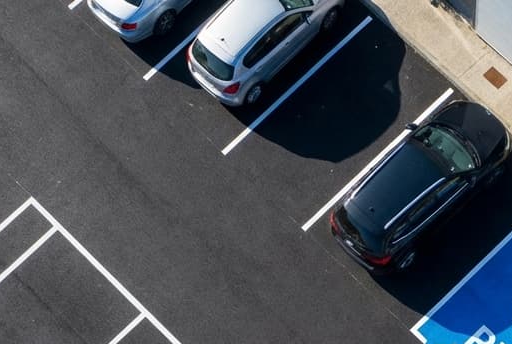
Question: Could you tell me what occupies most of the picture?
paved ground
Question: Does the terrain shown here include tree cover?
No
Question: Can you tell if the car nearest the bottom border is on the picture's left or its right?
right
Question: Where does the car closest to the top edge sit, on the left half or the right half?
left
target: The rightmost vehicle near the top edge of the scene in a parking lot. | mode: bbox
[188,0,351,103]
